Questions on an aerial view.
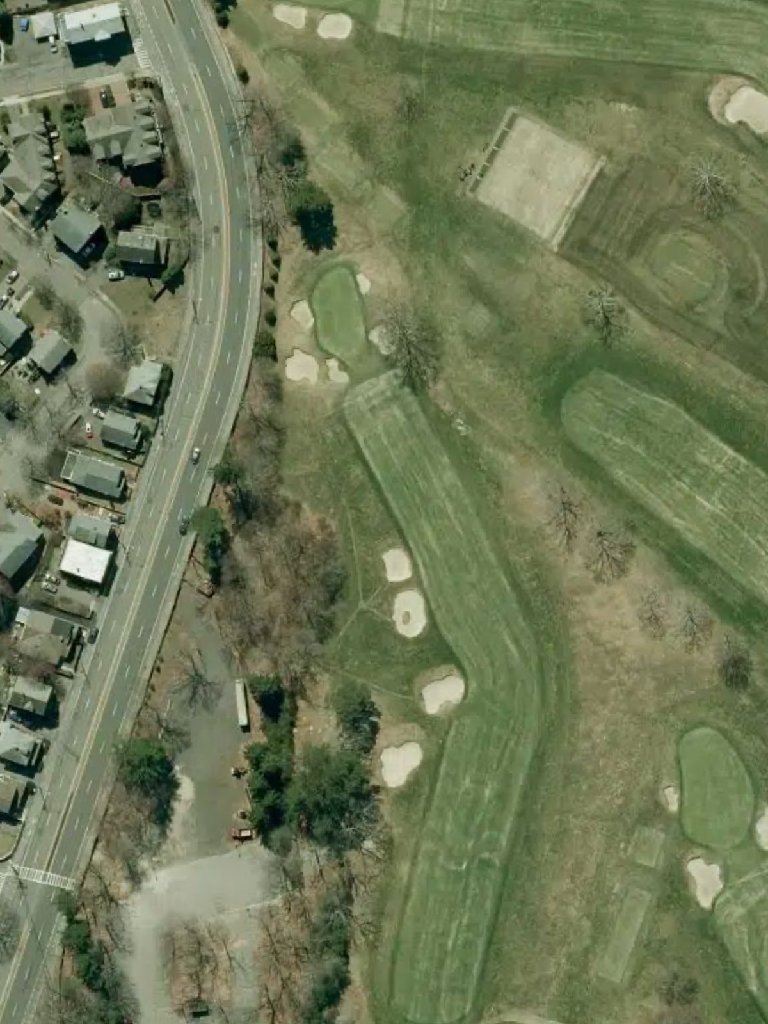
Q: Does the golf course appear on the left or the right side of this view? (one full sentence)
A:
The golf course appears in the right half of the scene.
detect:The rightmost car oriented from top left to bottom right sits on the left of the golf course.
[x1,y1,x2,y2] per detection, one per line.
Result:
[91,408,106,420]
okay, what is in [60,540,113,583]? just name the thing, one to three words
building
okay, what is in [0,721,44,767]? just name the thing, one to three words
house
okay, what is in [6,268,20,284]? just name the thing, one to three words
car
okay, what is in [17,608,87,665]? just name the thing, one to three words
house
